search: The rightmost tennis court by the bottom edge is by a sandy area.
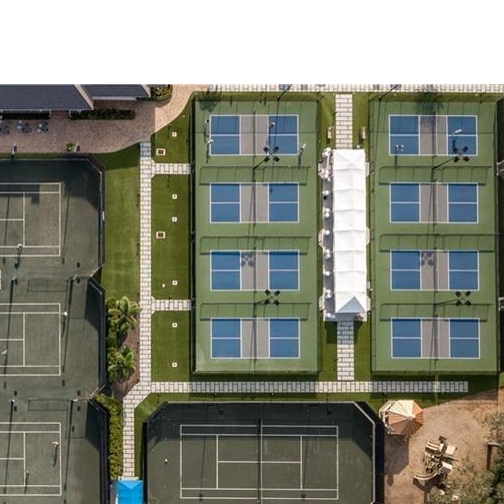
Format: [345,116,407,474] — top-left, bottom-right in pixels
[147,403,373,504]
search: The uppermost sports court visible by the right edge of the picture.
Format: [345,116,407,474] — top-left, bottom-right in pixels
[370,101,497,169]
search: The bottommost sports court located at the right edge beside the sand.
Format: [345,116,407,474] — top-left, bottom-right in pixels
[370,304,497,371]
